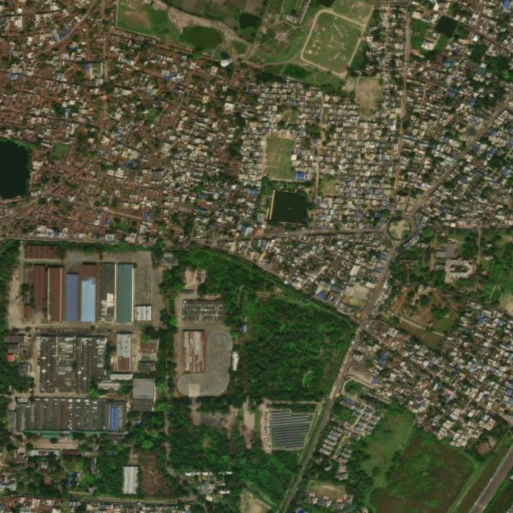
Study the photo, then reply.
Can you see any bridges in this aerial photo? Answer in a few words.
No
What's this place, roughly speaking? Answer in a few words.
residential area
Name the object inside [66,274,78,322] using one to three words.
shed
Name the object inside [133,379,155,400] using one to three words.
building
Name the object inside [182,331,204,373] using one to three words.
shed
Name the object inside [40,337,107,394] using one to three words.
building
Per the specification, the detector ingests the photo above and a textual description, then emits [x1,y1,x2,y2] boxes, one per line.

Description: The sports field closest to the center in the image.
[263,133,297,182]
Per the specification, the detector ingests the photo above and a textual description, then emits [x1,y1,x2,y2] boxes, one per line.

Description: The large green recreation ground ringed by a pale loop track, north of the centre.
[301,0,376,79]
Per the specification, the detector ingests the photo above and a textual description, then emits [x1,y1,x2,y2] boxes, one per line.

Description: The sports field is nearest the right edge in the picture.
[356,77,382,117]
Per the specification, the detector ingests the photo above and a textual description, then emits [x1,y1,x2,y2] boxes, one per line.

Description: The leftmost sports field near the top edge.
[117,0,181,44]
